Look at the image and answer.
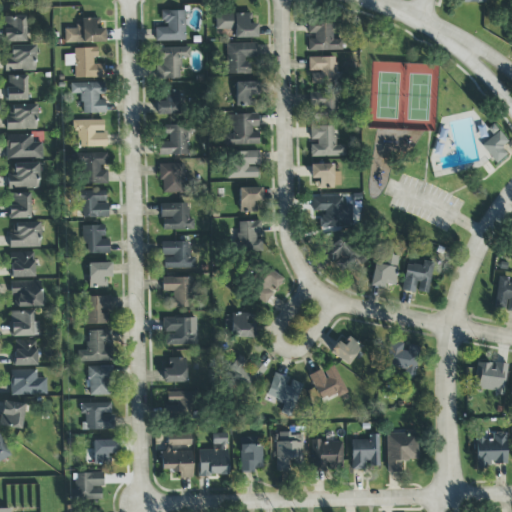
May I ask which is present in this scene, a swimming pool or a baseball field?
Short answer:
swimming pool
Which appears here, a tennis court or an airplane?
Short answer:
tennis court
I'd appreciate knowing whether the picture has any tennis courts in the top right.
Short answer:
Yes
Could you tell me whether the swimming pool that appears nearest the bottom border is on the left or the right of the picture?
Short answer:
right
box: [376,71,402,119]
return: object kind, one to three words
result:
tennis court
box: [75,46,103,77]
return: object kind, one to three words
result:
house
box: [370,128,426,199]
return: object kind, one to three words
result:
playground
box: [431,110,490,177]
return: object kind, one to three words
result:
swimming pool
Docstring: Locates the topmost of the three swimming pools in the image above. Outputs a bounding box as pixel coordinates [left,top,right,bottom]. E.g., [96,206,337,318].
[186,8,202,31]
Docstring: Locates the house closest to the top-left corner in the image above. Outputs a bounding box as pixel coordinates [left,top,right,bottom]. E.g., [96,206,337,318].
[5,16,28,40]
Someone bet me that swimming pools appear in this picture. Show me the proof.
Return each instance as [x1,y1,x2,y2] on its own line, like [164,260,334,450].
[431,110,490,177]
[186,8,202,31]
[190,49,203,72]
